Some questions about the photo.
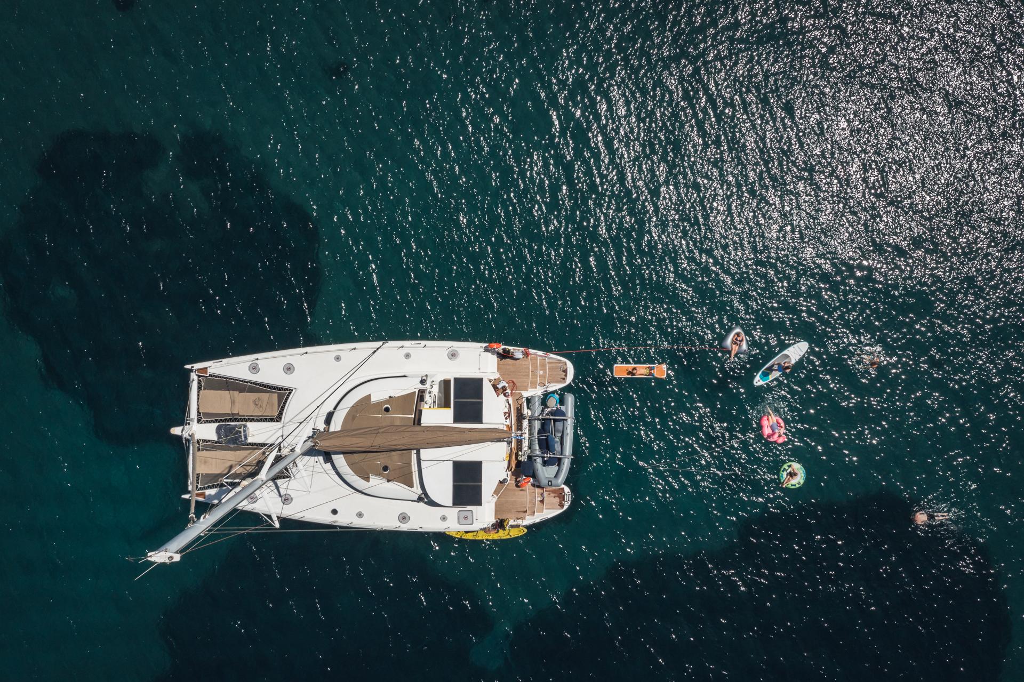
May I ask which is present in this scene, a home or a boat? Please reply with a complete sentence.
I can see a boat in this picture.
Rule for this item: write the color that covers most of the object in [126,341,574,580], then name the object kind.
white boat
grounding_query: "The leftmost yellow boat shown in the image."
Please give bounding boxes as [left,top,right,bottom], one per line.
[445,527,527,539]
